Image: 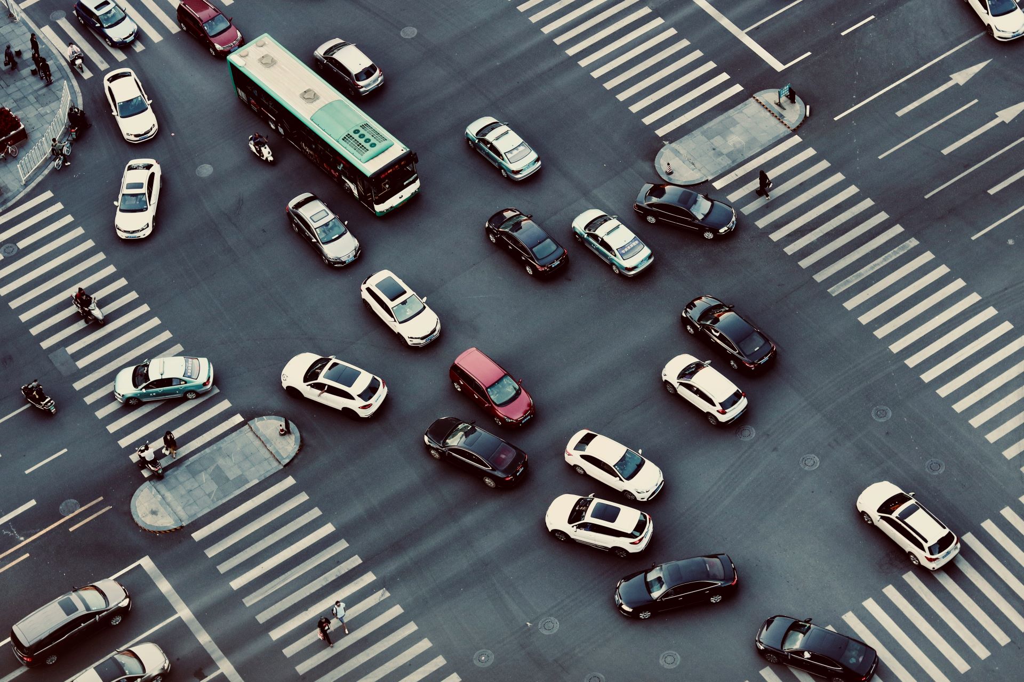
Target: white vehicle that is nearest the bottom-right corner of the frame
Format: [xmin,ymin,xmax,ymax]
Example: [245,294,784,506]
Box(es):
[856,481,962,573]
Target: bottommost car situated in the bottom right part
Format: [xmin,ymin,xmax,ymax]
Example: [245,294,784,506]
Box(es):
[751,615,881,682]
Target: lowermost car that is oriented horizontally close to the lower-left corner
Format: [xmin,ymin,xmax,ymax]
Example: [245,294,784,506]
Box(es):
[68,639,173,682]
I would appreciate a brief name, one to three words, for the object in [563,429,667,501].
car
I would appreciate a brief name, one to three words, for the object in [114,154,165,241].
car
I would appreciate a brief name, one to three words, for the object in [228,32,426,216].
bus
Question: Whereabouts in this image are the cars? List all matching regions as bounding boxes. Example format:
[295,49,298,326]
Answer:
[69,0,141,47]
[856,481,962,573]
[315,38,385,98]
[563,429,667,501]
[483,206,572,281]
[446,345,536,429]
[464,115,541,182]
[611,553,741,620]
[661,355,752,427]
[110,356,217,406]
[7,579,134,670]
[358,269,441,348]
[421,417,531,489]
[105,68,159,146]
[114,154,165,241]
[542,491,655,558]
[680,296,778,376]
[68,639,173,682]
[631,181,740,240]
[282,352,390,419]
[284,189,364,270]
[572,208,655,279]
[964,0,1024,43]
[172,0,246,58]
[751,615,881,682]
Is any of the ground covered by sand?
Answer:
No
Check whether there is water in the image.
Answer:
No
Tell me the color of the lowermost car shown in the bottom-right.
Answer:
black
